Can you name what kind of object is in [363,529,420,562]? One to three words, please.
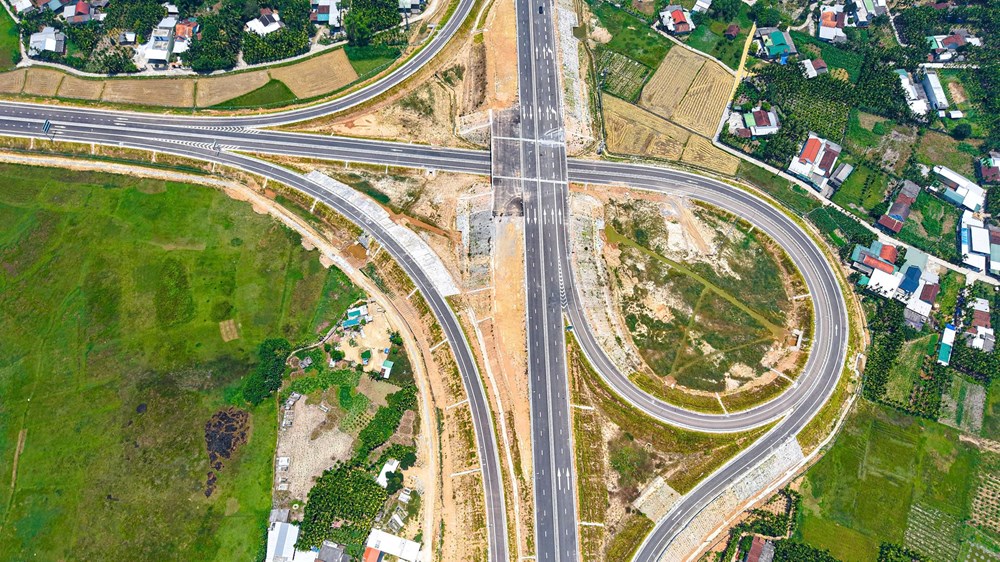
barn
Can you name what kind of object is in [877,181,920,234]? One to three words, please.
house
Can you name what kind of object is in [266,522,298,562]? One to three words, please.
barn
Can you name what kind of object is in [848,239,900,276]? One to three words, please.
house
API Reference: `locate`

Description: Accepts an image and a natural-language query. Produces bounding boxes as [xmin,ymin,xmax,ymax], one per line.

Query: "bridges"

[491,107,568,216]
